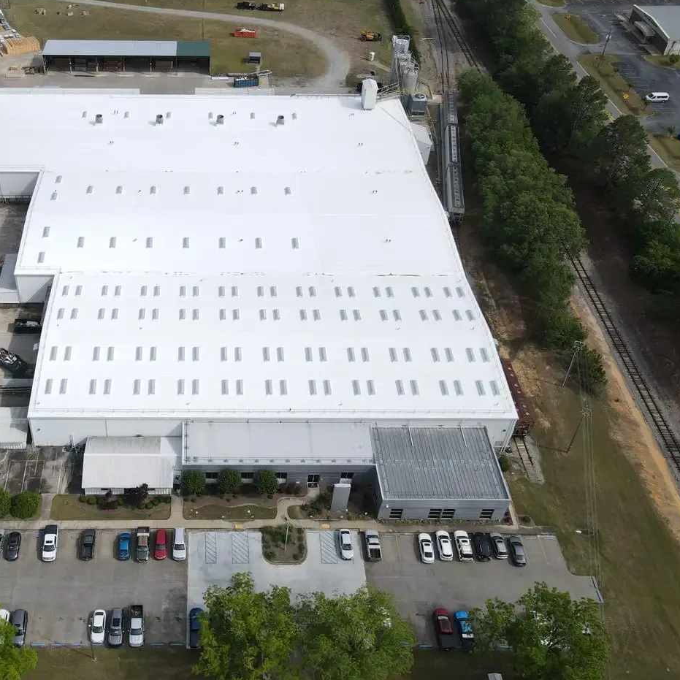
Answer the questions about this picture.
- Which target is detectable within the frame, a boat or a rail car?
rail car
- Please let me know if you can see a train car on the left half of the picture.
No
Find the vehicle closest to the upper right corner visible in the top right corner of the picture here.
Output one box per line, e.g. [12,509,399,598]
[643,91,669,104]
